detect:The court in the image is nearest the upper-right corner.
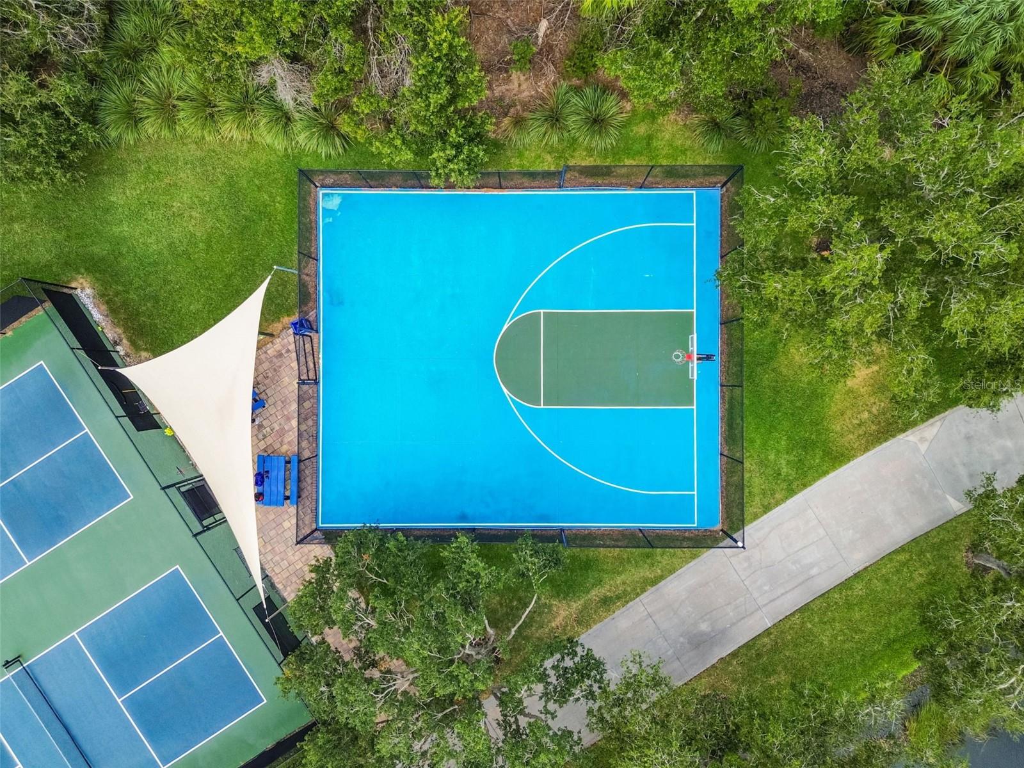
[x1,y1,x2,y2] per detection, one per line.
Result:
[318,187,721,530]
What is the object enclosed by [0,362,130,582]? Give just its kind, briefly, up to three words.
sports court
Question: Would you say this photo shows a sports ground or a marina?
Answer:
sports ground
